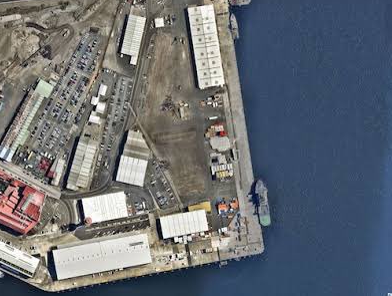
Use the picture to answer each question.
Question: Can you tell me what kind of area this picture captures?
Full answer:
This image shows a port.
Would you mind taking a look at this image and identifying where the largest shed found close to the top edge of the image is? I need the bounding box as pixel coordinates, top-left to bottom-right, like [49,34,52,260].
[188,5,225,89]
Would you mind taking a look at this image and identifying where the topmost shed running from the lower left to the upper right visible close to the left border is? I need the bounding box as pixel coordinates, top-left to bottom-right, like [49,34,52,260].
[2,85,51,152]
